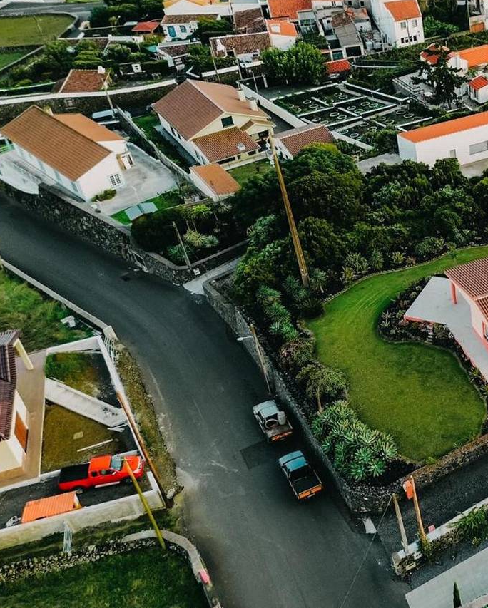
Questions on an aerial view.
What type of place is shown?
residential area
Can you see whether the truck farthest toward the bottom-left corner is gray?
No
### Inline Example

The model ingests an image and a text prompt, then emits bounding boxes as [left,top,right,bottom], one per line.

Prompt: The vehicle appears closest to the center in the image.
[253,401,293,450]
